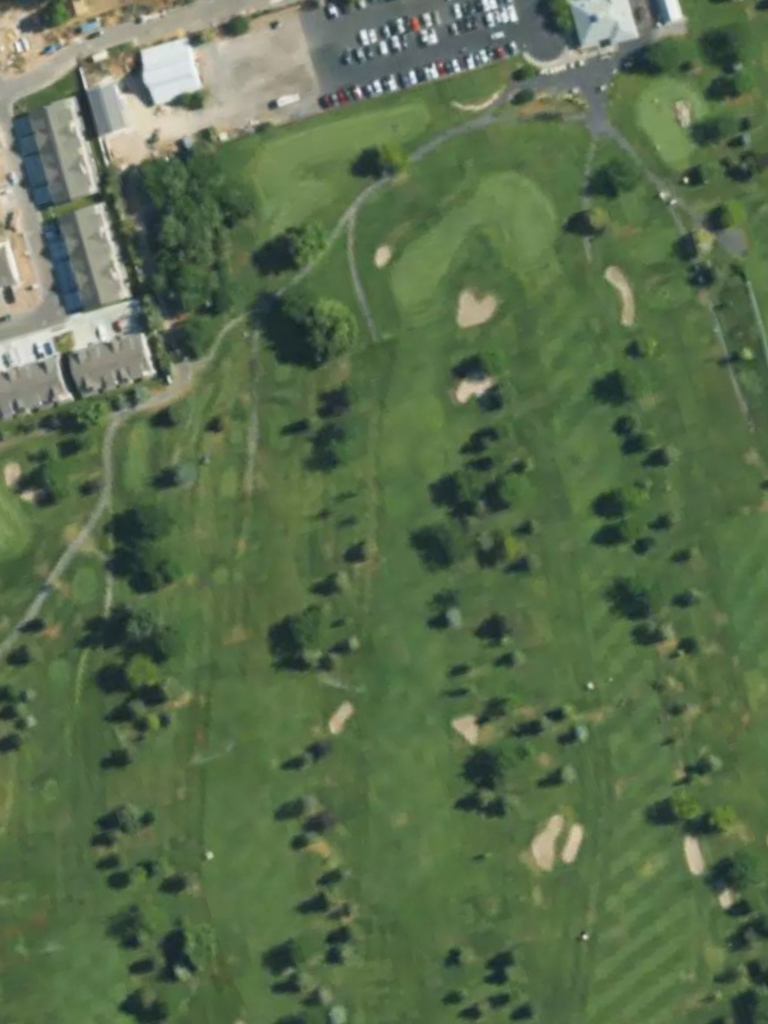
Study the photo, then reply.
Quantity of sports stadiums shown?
0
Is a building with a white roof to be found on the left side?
Yes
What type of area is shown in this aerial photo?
golf course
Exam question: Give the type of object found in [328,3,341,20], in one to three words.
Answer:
vehicle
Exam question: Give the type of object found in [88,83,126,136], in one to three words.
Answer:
shed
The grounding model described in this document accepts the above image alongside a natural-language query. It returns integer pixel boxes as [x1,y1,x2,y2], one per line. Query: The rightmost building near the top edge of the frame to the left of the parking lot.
[140,38,203,105]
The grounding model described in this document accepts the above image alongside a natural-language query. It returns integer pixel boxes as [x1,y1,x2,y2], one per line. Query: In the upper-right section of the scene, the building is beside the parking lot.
[573,0,641,54]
